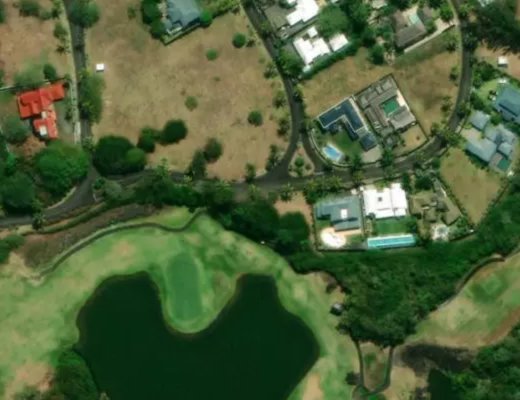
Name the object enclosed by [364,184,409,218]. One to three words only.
house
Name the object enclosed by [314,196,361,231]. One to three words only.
house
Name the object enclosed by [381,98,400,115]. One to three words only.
swimming pool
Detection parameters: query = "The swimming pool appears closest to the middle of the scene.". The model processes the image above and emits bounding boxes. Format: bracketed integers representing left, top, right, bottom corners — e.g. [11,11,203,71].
[320,142,344,162]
